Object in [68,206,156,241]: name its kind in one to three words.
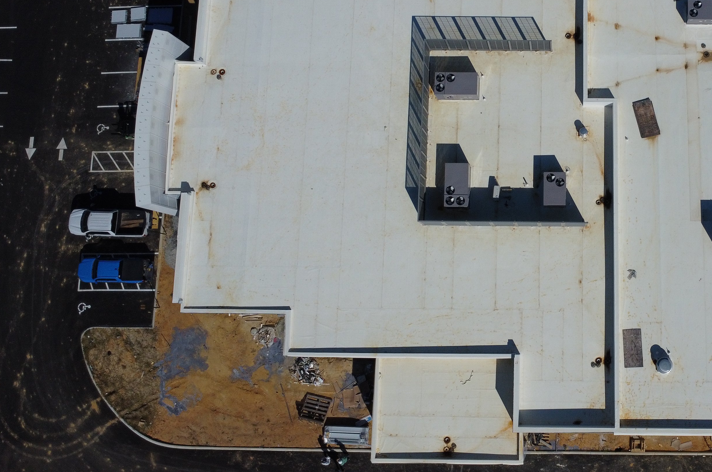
truck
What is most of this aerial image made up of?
buildings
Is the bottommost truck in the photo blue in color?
Yes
